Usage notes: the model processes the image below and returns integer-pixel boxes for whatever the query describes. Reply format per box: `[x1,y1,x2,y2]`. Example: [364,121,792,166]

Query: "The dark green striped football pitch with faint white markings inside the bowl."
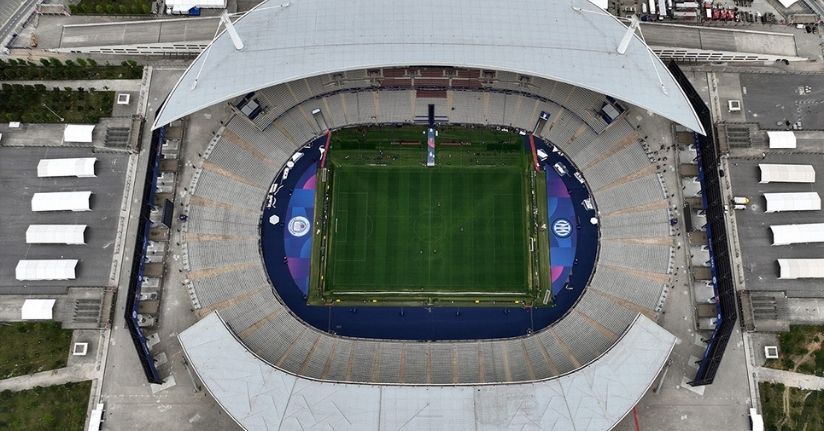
[311,126,552,304]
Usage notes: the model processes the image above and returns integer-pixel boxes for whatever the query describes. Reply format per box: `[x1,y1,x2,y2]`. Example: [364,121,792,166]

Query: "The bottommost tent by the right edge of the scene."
[774,259,824,280]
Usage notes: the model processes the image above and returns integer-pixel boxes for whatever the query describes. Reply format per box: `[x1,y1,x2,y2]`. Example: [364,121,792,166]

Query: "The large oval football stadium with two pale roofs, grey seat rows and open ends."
[152,0,706,431]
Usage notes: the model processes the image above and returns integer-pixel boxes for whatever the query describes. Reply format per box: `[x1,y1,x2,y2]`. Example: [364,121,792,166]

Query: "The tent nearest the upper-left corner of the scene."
[64,126,97,143]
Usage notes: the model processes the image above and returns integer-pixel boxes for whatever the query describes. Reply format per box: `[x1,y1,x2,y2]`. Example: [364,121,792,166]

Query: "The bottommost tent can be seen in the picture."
[23,299,58,321]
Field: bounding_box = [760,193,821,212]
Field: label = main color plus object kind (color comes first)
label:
white tent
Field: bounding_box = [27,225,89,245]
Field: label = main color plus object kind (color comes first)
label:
white tent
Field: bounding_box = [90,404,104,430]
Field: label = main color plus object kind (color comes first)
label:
white vehicle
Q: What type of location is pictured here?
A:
sports ground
